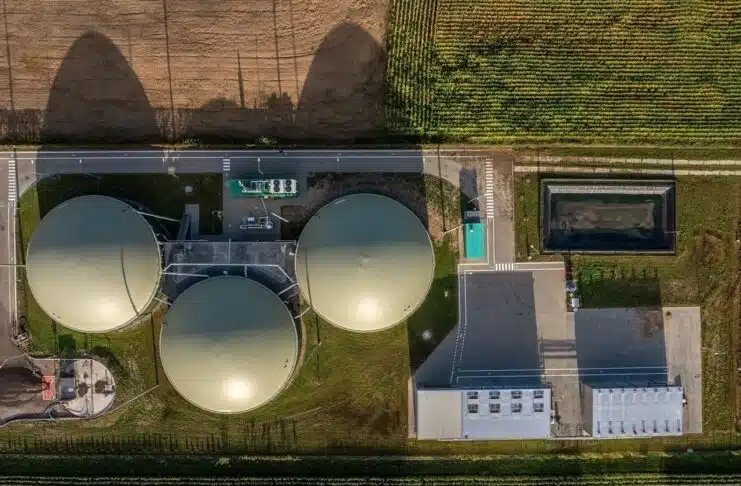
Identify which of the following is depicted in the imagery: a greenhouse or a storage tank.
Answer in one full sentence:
Looking from above, you can make out a storage tank.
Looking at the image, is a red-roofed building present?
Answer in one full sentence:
No, the picture doesn't show any red-roofed building.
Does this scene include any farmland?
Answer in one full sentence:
Yes, there is farmland in the image.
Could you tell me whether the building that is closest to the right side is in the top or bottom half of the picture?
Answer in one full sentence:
The bottom half of the photo is where the building that is closest to the right side is.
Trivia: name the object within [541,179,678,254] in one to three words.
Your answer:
pond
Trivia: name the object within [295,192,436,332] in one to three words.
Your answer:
storage tank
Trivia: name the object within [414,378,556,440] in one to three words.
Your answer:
building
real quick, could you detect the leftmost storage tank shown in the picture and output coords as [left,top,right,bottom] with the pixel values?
[24,195,174,332]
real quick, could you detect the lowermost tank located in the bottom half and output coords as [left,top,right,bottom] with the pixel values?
[161,270,305,413]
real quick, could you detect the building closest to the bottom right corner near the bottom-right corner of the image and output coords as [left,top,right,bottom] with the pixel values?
[579,380,685,438]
